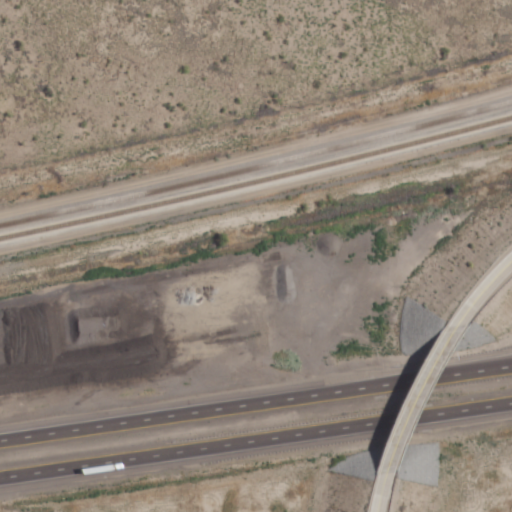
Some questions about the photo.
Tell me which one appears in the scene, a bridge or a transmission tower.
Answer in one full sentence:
Of the two, only a bridge appears.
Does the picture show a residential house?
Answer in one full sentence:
No, there's no residential house here.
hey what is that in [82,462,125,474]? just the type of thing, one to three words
vehicle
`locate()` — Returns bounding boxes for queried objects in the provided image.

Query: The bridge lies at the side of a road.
[371,279,496,504]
